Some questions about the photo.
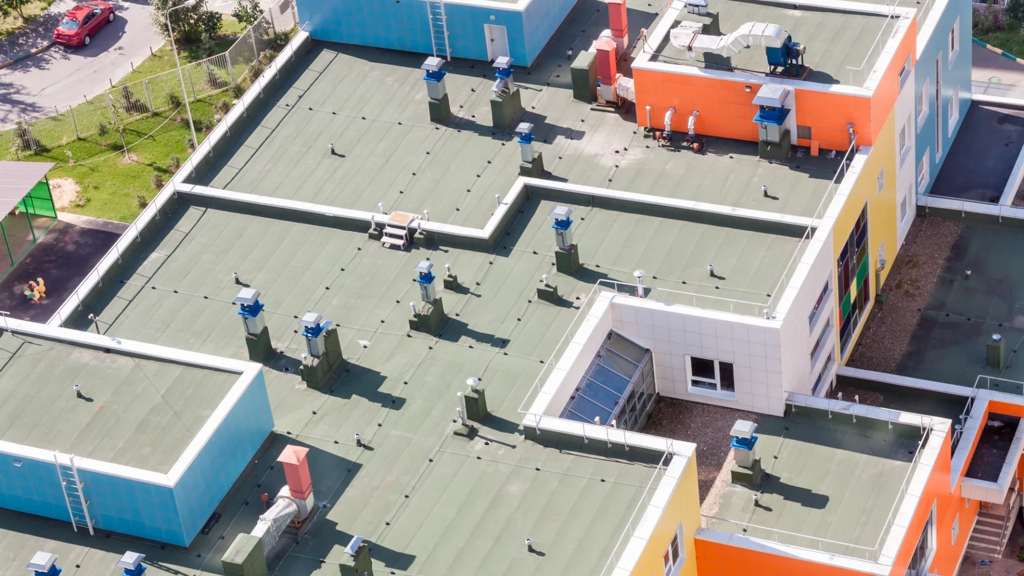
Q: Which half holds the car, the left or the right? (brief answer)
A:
left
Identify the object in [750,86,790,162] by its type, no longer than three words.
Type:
chimney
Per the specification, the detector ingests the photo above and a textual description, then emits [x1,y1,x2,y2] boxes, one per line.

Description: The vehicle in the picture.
[54,0,115,44]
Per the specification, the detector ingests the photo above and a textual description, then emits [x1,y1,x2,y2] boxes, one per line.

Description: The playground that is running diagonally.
[0,219,125,326]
